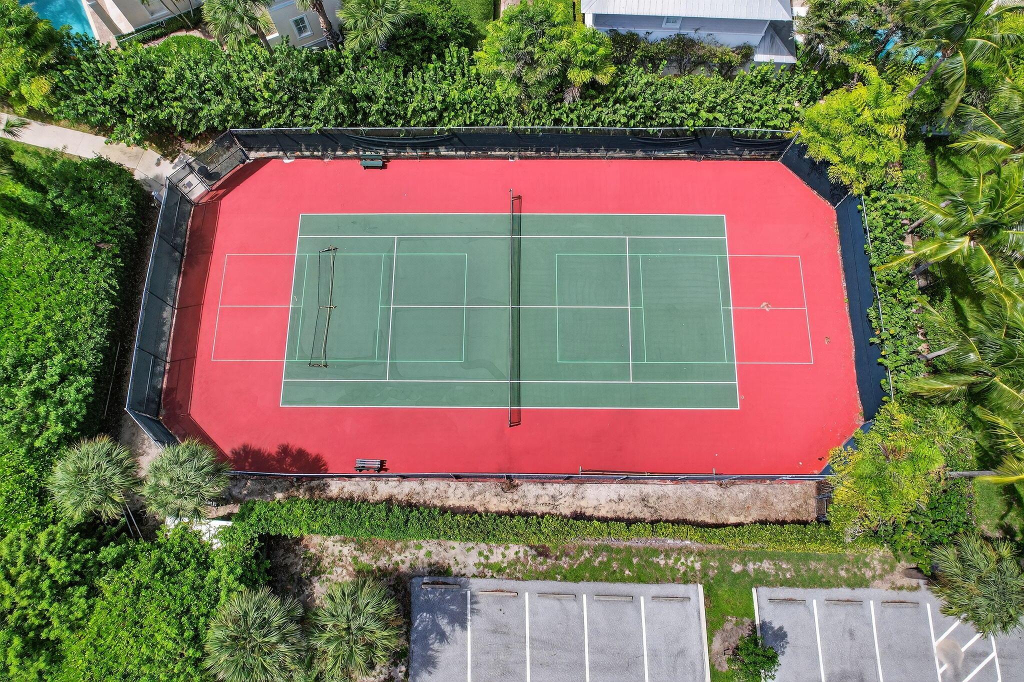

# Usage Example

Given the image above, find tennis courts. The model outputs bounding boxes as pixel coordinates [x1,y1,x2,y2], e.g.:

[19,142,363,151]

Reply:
[162,157,862,487]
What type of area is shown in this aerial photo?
sports ground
